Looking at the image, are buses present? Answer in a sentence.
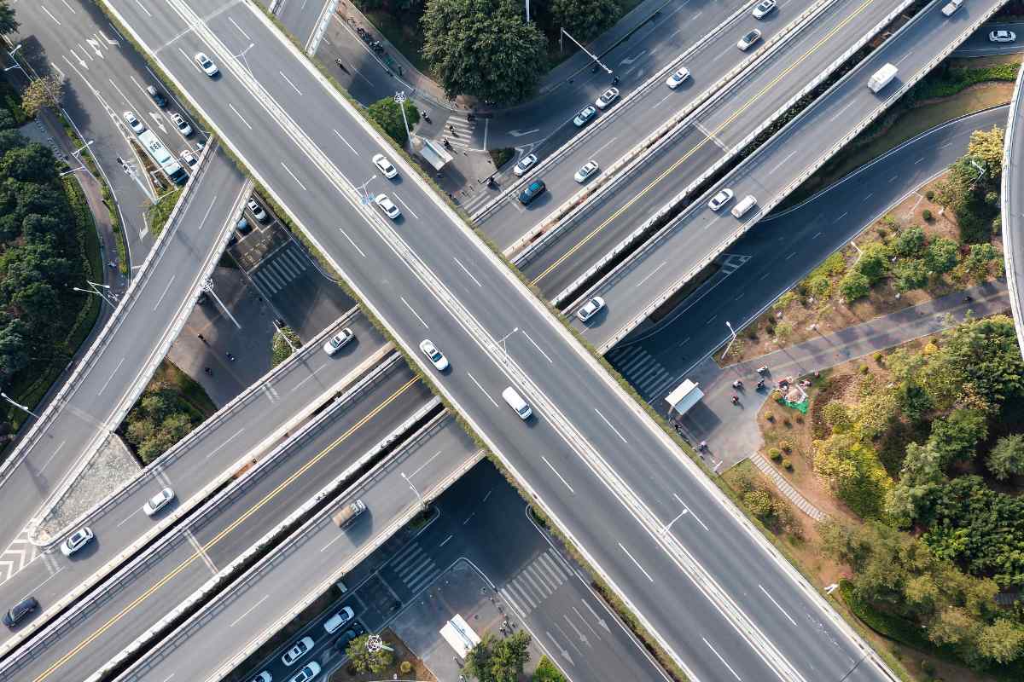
Yes, a bus appears in the view.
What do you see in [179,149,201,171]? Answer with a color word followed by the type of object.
white car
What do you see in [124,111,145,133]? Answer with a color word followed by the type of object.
white car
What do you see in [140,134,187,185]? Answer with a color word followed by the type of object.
white bus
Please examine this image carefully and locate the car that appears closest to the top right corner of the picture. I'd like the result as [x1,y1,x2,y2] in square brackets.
[987,30,1015,43]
